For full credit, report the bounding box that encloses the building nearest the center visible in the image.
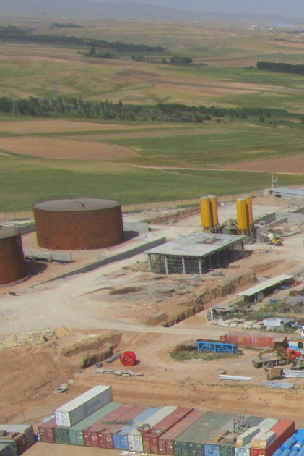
[146,232,245,275]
